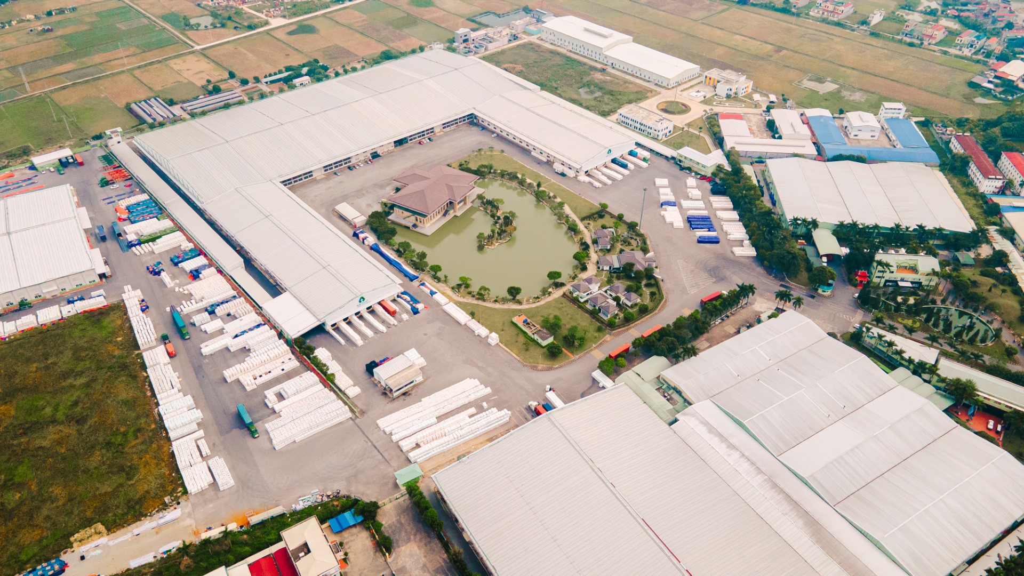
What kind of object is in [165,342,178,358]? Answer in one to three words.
vehicle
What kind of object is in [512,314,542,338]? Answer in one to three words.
shed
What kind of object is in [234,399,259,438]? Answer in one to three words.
truck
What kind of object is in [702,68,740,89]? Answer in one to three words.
building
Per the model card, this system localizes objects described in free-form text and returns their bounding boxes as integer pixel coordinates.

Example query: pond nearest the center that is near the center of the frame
[394,178,577,297]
